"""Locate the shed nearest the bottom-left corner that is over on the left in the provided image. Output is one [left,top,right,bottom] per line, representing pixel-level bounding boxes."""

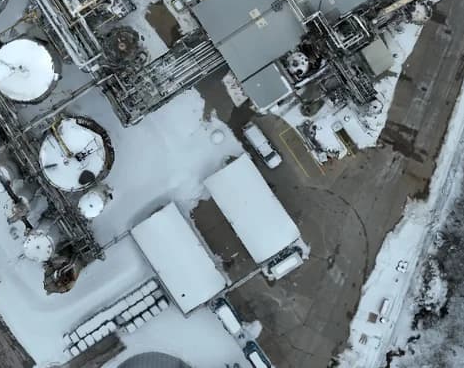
[131,200,227,314]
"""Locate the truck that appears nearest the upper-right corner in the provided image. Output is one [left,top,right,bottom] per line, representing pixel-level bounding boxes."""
[239,119,284,171]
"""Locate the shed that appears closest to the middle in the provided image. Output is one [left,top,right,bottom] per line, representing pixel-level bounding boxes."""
[203,151,300,265]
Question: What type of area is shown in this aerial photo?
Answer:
industrial area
